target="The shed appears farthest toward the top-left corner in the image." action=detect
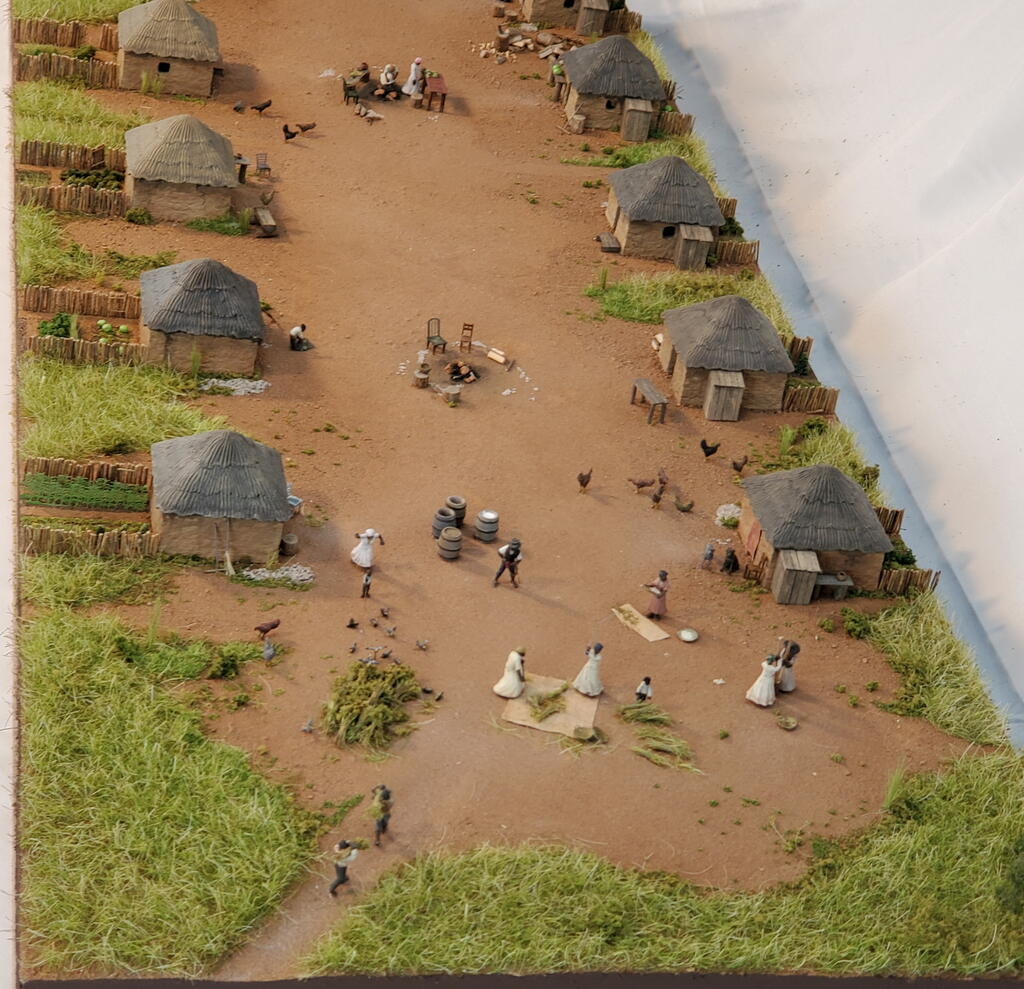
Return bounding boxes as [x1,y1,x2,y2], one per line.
[113,0,217,94]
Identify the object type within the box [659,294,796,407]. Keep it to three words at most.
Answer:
shed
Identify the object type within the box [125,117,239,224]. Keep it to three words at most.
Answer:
shed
